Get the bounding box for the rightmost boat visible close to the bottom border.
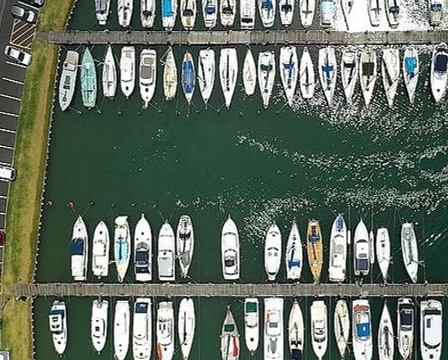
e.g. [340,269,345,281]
[419,298,442,360]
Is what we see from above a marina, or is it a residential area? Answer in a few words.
marina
